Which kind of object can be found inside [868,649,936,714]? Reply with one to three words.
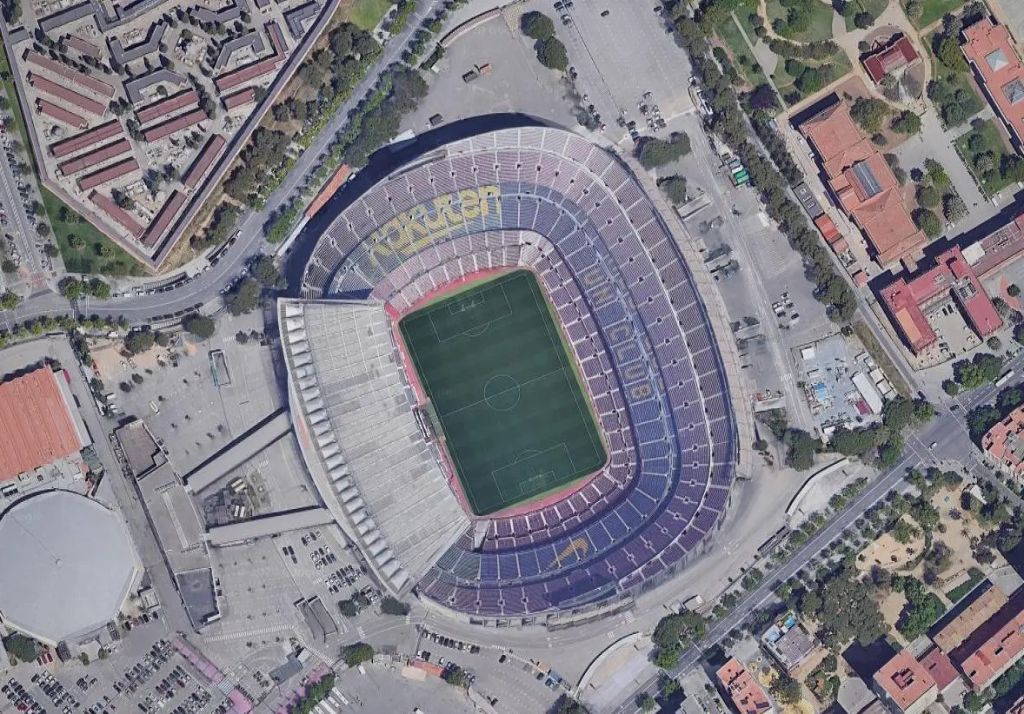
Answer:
building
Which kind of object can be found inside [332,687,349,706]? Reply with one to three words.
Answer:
vehicle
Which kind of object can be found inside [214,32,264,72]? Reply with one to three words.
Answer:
building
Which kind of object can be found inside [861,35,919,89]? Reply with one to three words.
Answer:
house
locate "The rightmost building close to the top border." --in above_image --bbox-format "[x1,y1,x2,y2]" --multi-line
[959,16,1024,164]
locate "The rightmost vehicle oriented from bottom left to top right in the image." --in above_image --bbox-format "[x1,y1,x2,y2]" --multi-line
[994,373,1012,388]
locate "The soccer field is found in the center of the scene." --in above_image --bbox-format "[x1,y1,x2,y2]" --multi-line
[396,264,610,524]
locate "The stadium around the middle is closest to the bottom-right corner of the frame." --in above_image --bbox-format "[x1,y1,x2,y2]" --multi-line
[277,118,764,638]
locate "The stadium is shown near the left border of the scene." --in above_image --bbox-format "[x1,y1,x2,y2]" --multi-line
[0,488,138,645]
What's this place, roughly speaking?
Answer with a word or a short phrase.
sports ground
